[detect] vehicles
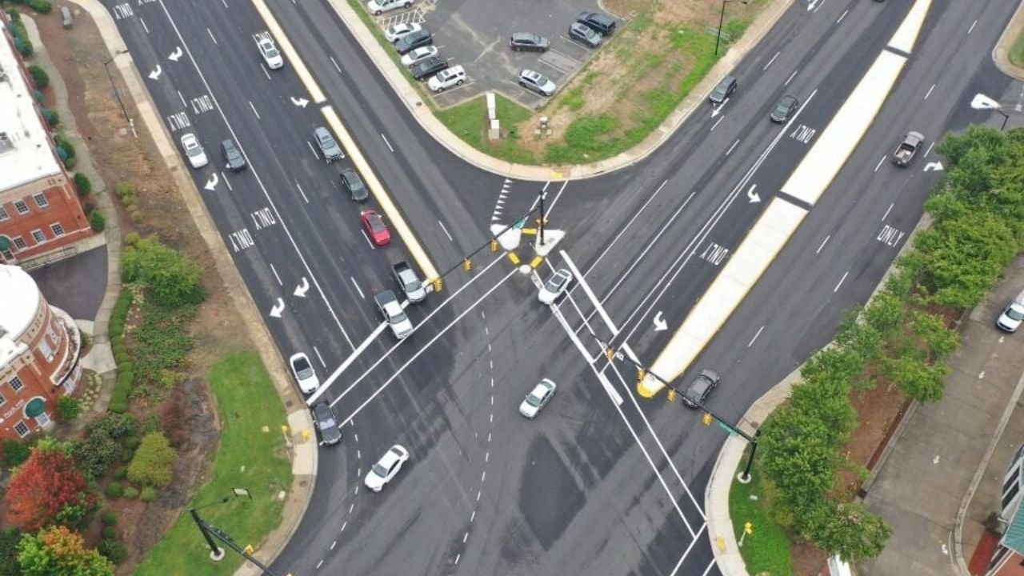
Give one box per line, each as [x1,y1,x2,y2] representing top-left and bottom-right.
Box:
[709,72,740,105]
[538,267,574,307]
[388,255,428,306]
[395,28,435,55]
[258,37,284,67]
[373,287,415,340]
[510,34,550,55]
[360,209,391,247]
[339,167,369,204]
[312,125,342,162]
[426,62,468,93]
[516,67,556,97]
[577,9,617,35]
[400,44,440,68]
[383,20,424,42]
[410,53,451,81]
[311,401,343,446]
[681,367,719,412]
[365,443,409,494]
[566,20,604,49]
[517,376,558,422]
[288,351,321,397]
[890,131,925,169]
[770,94,800,125]
[179,131,208,168]
[218,139,245,171]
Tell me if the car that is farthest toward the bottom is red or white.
white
